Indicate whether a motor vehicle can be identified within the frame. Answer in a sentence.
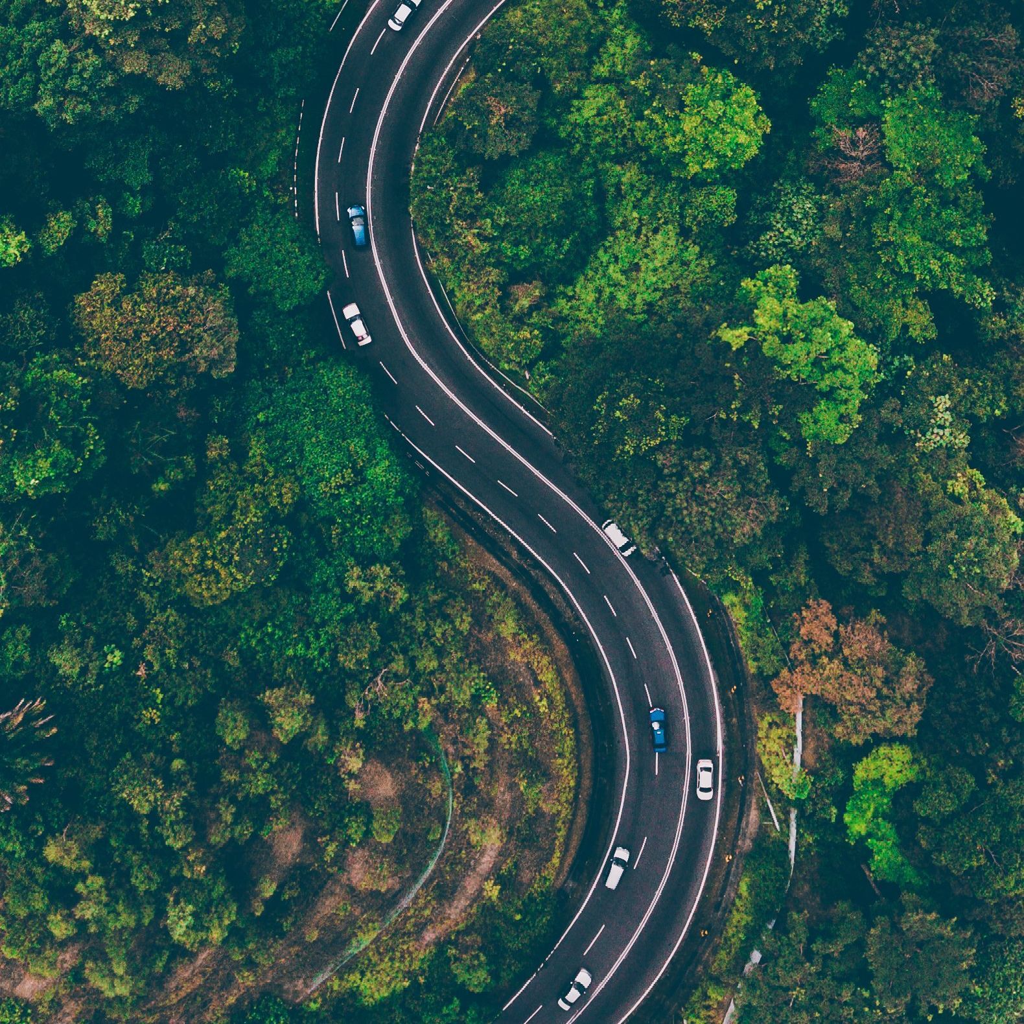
Yes, a motor vehicle is visible in the scene.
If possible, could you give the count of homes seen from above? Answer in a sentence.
Not a single home can be seen.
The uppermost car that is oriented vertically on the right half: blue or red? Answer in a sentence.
The uppermost car that is oriented vertically on the right half looks blue in the image.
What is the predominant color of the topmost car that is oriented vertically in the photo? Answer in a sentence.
From above, the topmost car that is oriented vertically appears blue.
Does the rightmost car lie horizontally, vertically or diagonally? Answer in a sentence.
I'd say the rightmost car is aligned vertically in the picture.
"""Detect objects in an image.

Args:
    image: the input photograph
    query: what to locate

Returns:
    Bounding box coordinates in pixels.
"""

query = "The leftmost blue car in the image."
[347,205,368,248]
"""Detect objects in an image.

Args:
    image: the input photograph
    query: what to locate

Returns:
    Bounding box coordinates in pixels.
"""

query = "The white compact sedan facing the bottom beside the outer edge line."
[695,759,715,800]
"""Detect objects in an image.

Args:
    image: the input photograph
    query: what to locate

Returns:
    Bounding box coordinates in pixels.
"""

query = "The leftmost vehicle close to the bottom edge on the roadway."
[558,969,590,1013]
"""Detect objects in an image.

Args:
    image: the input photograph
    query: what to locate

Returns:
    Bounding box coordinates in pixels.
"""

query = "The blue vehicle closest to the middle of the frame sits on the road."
[648,709,668,752]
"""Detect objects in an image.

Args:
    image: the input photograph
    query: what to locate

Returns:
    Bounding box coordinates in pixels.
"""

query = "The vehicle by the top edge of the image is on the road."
[384,0,418,35]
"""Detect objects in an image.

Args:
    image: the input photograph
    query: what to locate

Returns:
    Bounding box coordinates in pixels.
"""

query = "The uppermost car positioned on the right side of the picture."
[602,520,635,557]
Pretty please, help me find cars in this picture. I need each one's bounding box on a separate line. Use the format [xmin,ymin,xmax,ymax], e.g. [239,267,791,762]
[558,969,590,1013]
[604,848,629,891]
[347,205,368,248]
[343,303,373,346]
[384,0,418,35]
[648,709,668,752]
[695,759,715,800]
[602,520,635,557]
